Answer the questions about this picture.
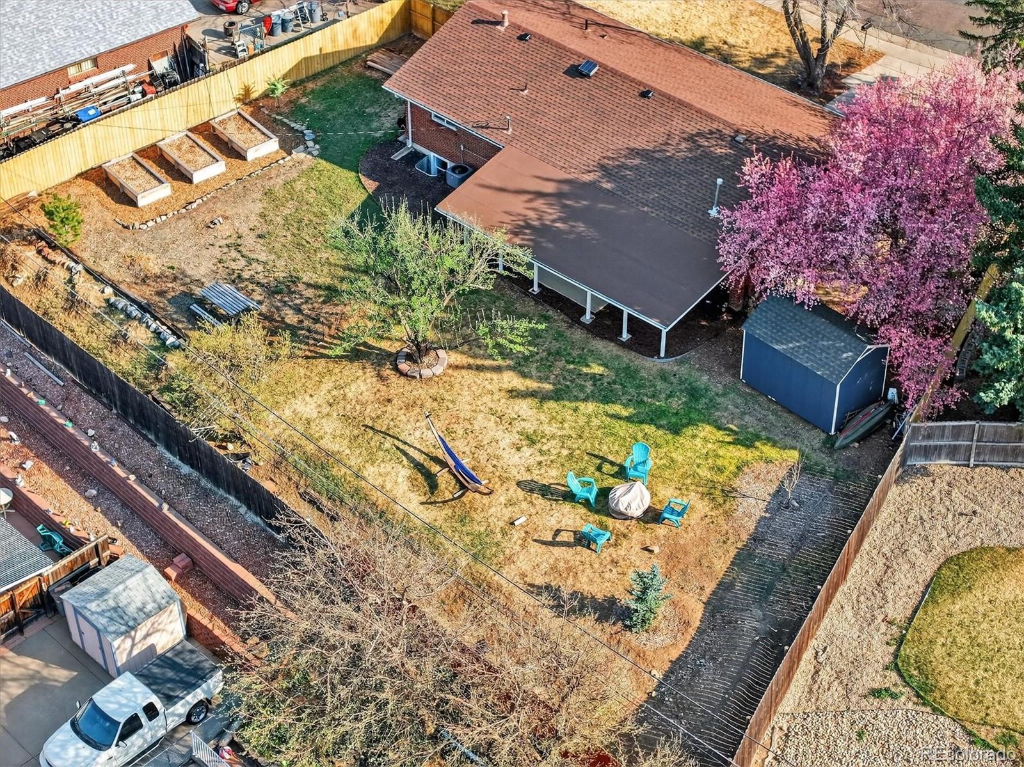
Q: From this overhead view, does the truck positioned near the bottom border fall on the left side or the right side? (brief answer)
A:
left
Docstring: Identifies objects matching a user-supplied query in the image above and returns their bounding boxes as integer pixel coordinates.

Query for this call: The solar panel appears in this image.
[574,56,598,73]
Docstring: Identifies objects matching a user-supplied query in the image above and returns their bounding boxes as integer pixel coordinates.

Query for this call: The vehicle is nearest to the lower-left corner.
[33,640,232,767]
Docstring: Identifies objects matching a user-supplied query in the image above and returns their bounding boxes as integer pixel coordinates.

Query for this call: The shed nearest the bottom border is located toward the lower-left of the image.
[62,564,186,678]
